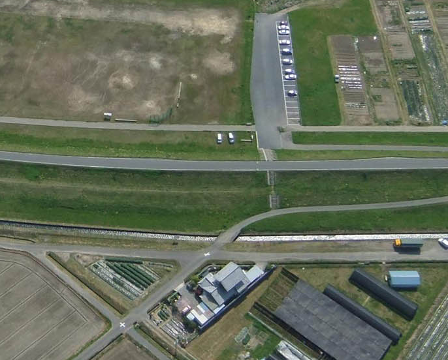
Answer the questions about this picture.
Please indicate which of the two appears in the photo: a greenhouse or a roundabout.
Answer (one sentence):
The image shows a greenhouse.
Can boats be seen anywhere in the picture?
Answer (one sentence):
No, there's no boat here.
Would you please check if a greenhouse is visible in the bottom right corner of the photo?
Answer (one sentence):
Yes, looking in the bottom right corner of the photo, one can make out a greenhouse.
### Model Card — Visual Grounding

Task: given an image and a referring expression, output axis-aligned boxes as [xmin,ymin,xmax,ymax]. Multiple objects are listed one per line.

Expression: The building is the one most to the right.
[388,271,419,290]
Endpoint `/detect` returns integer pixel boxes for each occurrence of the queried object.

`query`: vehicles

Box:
[283,58,292,63]
[439,239,448,247]
[279,30,290,35]
[288,90,296,95]
[282,49,291,54]
[395,238,425,249]
[284,68,294,73]
[228,131,235,142]
[280,19,289,24]
[280,39,291,44]
[335,73,340,82]
[279,24,289,30]
[285,74,296,80]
